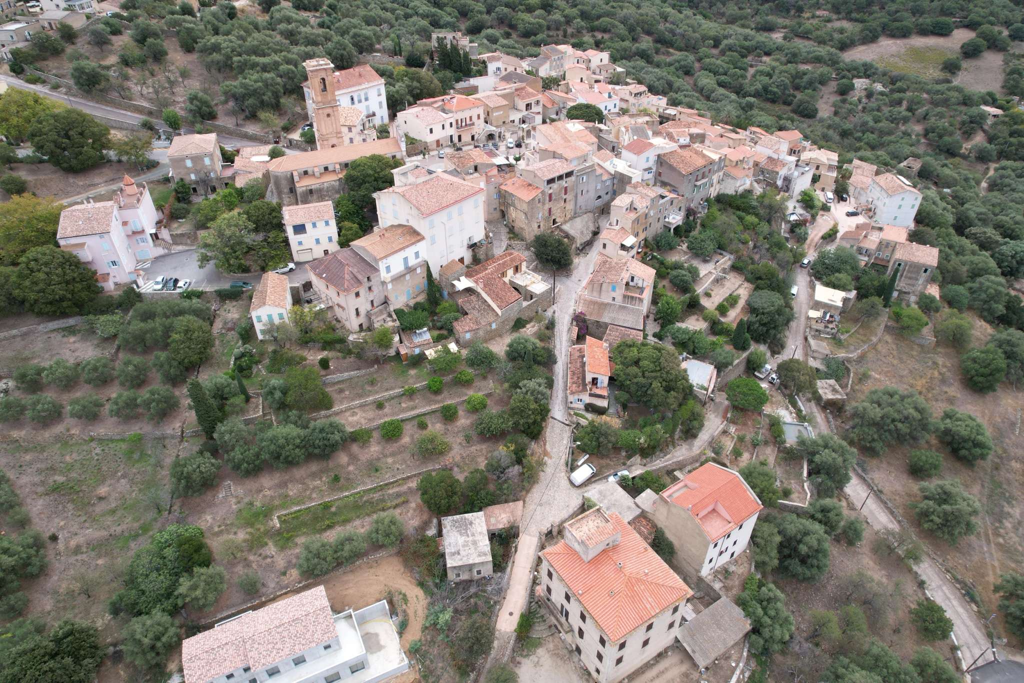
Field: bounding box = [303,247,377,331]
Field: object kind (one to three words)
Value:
house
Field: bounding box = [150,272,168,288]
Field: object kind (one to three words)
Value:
car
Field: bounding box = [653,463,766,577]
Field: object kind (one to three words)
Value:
house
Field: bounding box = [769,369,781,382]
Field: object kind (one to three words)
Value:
vehicle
